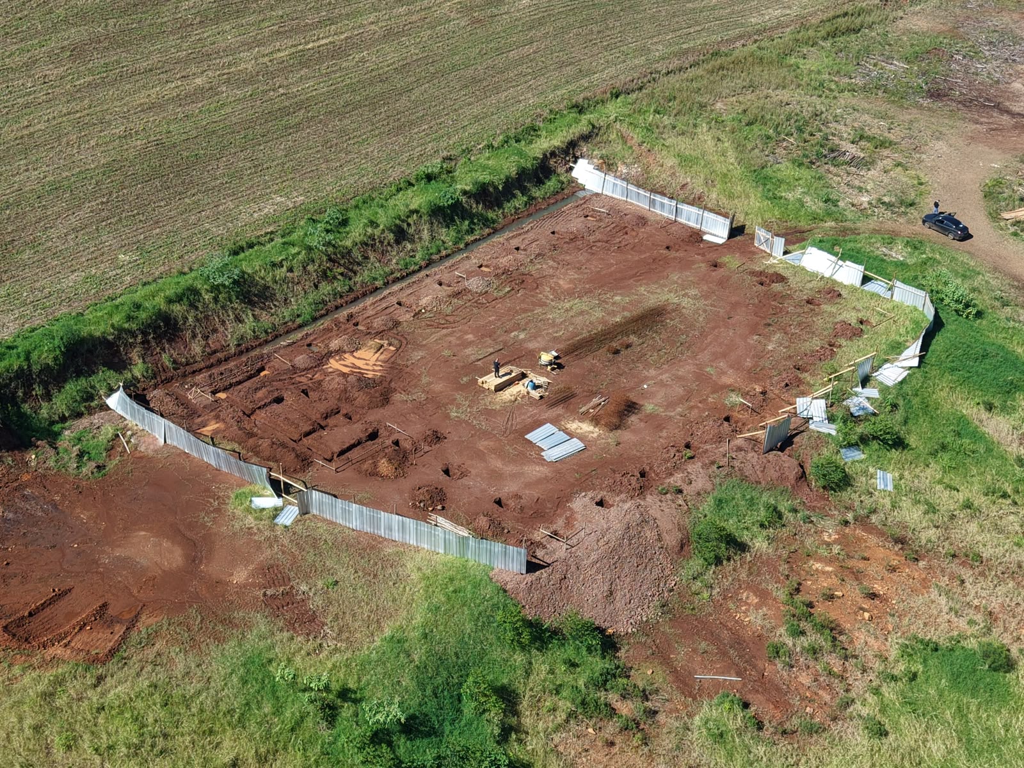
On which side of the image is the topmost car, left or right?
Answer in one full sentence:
The topmost car sits on the right side.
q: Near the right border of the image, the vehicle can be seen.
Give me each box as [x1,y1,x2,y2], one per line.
[922,207,974,239]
